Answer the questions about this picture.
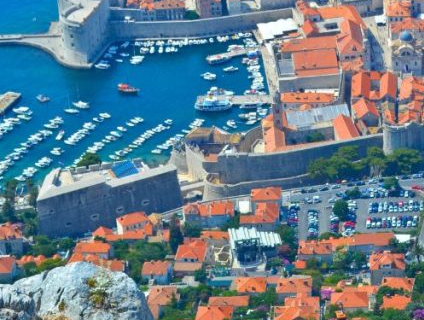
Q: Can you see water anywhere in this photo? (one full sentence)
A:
Yes, water shows up in the scene.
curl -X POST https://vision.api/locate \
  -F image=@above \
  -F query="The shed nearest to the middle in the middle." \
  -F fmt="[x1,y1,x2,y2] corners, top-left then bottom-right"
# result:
[192,120,245,151]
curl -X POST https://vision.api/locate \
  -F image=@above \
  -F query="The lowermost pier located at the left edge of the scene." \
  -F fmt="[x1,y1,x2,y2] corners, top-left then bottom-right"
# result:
[0,92,22,114]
